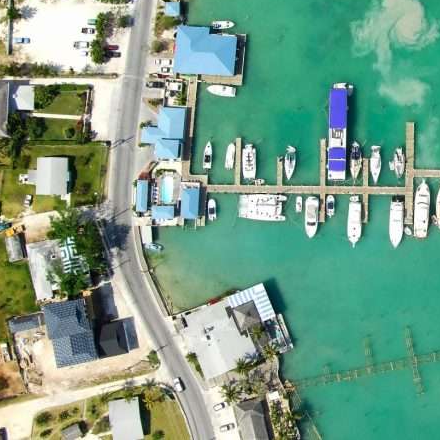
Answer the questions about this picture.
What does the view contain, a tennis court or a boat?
boat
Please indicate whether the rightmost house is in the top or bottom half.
bottom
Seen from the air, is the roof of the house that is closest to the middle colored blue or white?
blue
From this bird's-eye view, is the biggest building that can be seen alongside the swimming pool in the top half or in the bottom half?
top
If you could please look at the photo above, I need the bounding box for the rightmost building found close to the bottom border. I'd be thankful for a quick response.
[232,397,271,440]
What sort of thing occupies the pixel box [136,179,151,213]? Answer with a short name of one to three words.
building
